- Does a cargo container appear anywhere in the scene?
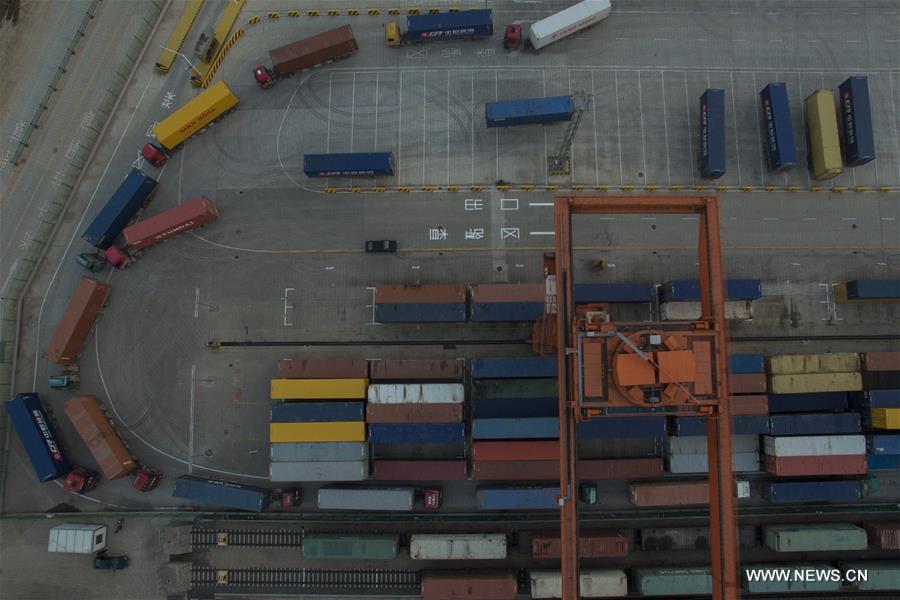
Yes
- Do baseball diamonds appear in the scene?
No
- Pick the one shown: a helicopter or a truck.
truck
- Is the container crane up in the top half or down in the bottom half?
bottom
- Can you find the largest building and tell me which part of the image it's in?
bottom left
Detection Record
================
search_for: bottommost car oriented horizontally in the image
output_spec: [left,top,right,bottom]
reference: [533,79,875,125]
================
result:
[92,553,129,571]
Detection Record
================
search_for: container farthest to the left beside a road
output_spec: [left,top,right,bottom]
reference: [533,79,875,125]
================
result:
[4,392,69,483]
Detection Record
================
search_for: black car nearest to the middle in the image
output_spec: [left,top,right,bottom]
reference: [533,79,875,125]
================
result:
[365,238,397,253]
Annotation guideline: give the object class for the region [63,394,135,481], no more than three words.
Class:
shipping container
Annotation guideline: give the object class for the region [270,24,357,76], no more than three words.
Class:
shipping container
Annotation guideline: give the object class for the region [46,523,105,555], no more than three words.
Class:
building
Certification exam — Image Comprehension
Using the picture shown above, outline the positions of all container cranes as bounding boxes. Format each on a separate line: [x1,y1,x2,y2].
[526,198,746,600]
